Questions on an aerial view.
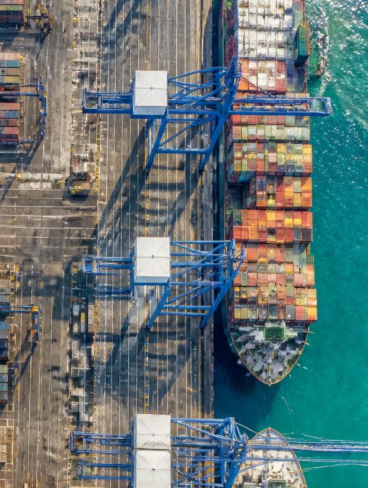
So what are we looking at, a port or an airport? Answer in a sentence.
The area seen from above is a port.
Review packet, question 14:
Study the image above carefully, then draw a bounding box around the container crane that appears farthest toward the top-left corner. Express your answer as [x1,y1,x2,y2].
[0,3,54,68]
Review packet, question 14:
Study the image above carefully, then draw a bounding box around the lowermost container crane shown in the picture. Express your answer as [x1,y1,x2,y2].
[77,447,262,488]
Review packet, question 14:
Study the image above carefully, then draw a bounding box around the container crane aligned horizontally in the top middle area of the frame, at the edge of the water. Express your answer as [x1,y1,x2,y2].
[82,60,336,180]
